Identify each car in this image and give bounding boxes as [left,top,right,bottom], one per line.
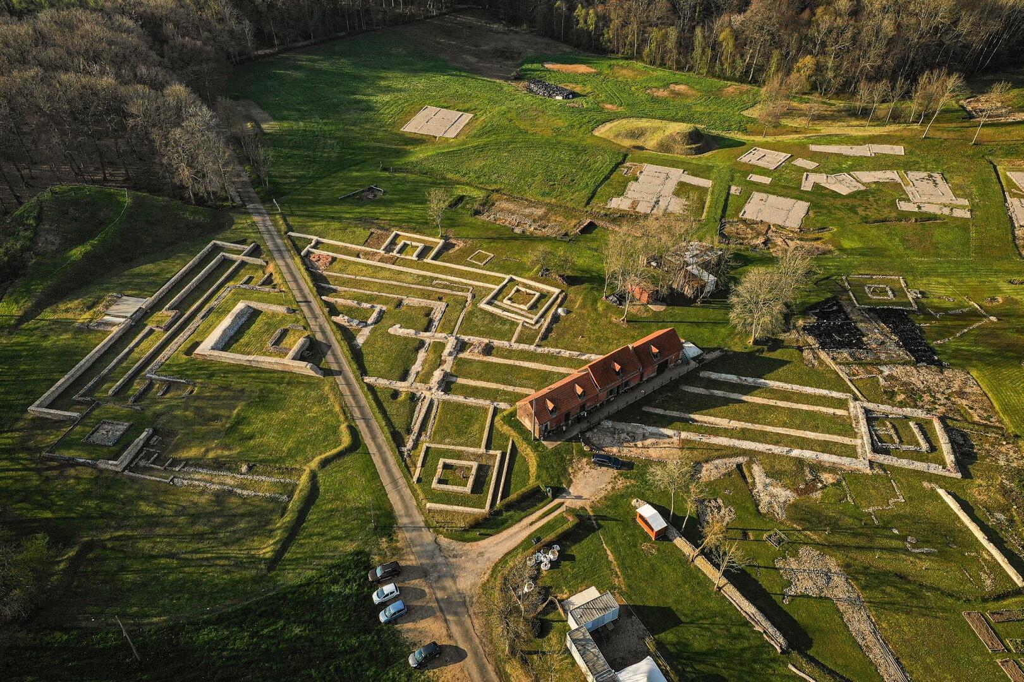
[371,583,400,606]
[368,560,401,583]
[378,600,409,624]
[407,640,442,669]
[592,452,622,471]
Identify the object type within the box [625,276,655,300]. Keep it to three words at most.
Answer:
shed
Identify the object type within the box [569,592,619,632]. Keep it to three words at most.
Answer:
building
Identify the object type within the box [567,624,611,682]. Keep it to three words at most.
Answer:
building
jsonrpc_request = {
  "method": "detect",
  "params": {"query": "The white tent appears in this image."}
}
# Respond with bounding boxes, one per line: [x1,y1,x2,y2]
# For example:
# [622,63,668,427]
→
[616,657,664,682]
